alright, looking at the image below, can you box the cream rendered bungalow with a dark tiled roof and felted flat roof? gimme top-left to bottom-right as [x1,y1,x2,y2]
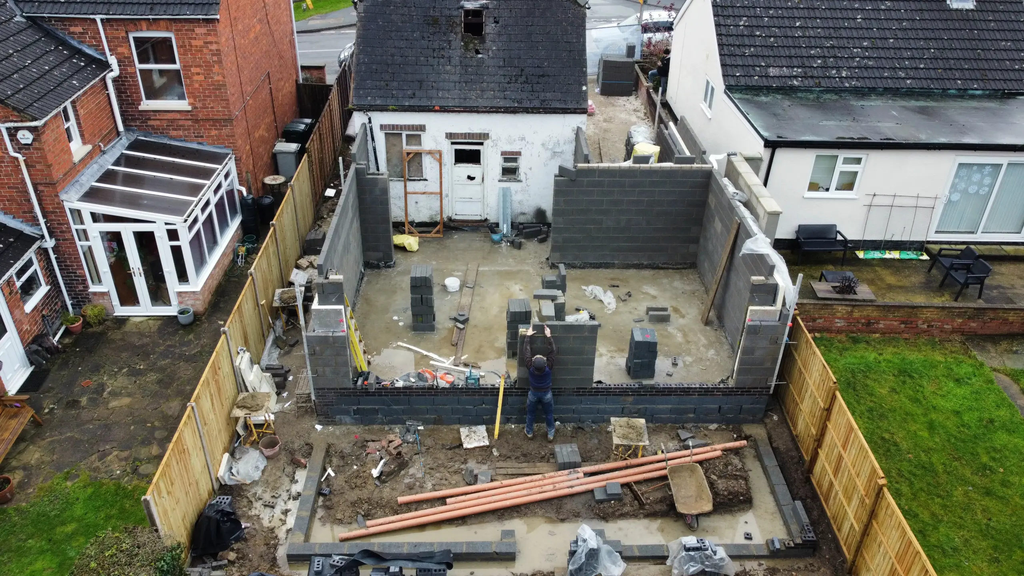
[669,0,1024,244]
